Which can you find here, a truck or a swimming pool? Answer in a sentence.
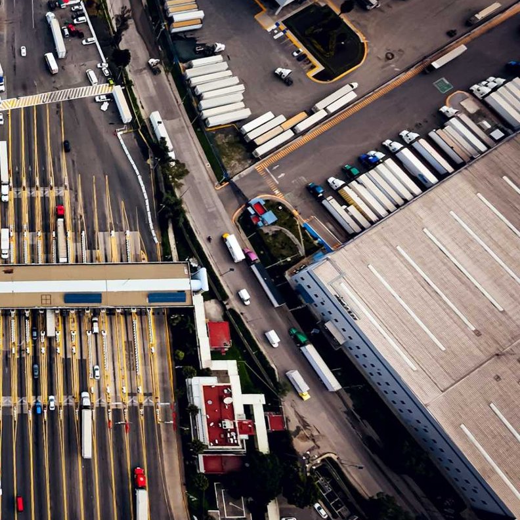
There is a truck in the scene.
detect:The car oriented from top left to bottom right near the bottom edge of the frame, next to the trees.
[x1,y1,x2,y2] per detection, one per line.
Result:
[313,503,326,519]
